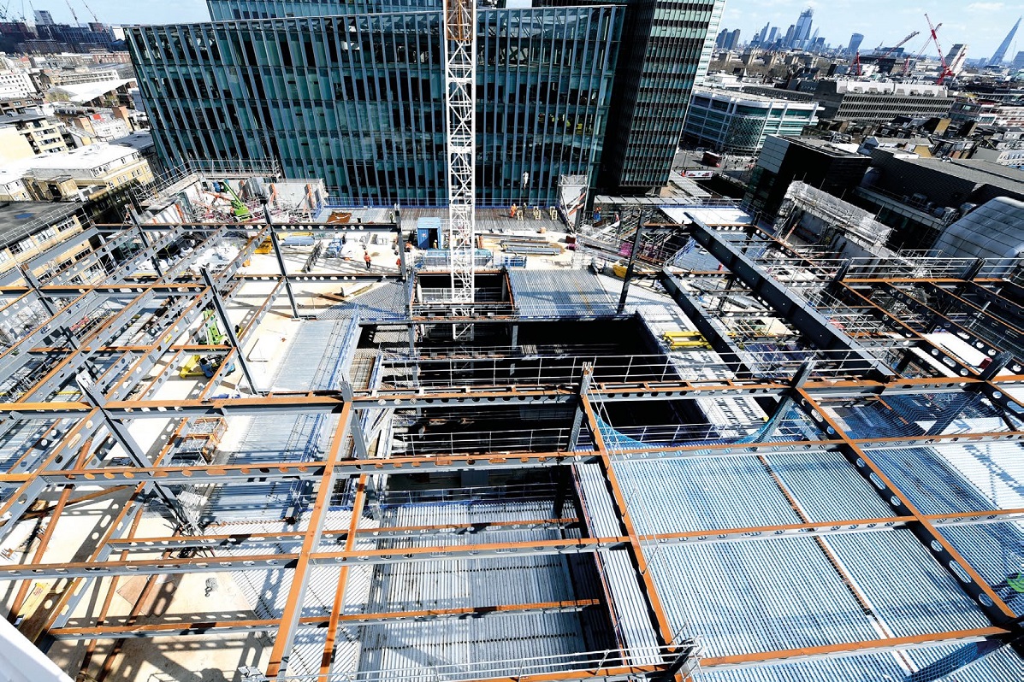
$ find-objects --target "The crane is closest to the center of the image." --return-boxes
[442,0,480,358]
